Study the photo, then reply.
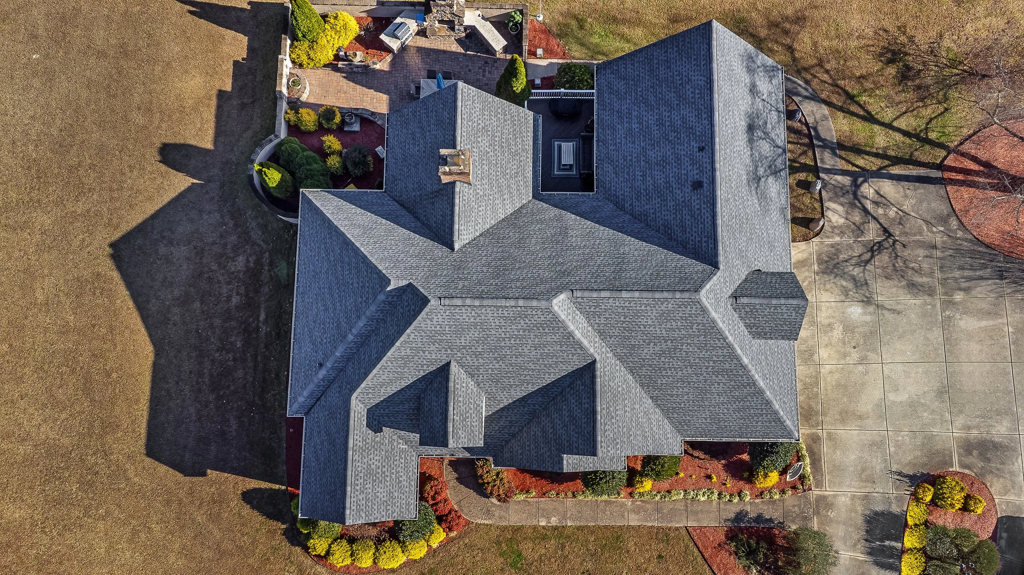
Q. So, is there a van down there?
No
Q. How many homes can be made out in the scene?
1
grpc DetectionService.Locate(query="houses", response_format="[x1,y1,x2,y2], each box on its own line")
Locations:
[287,19,809,527]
